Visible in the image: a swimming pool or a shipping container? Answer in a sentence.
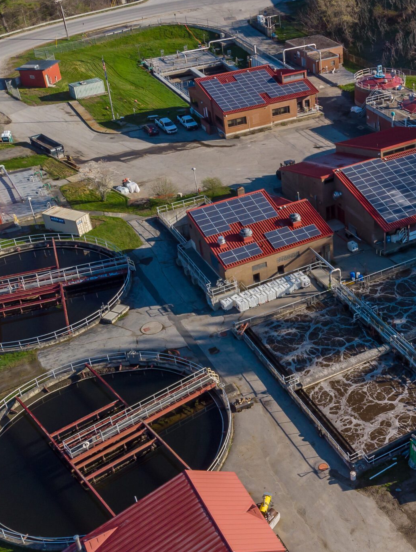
There is a shipping container in the scene.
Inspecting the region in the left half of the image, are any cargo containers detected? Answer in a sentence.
Yes, you'll find a cargo container in the left half of the image.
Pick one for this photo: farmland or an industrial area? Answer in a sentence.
What you see here is an industrial area.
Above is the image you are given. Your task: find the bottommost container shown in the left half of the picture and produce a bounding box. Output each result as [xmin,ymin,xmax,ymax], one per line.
[44,203,91,234]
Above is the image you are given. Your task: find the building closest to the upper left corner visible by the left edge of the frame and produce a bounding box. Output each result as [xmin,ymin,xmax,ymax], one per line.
[14,60,61,87]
